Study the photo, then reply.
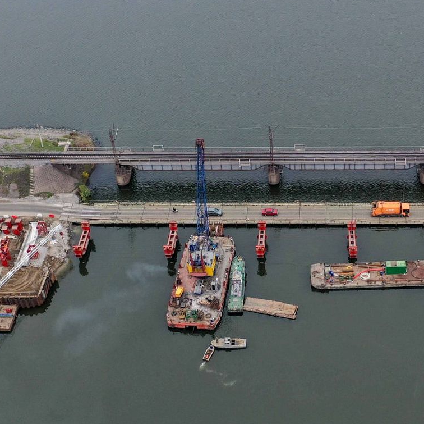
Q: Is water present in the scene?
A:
Yes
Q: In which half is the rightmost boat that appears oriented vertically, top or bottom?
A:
bottom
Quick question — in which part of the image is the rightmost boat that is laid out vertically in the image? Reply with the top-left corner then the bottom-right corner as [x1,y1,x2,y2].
[225,255,245,314]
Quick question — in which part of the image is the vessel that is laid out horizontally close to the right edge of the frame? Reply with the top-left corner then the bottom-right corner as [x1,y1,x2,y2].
[310,259,424,289]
